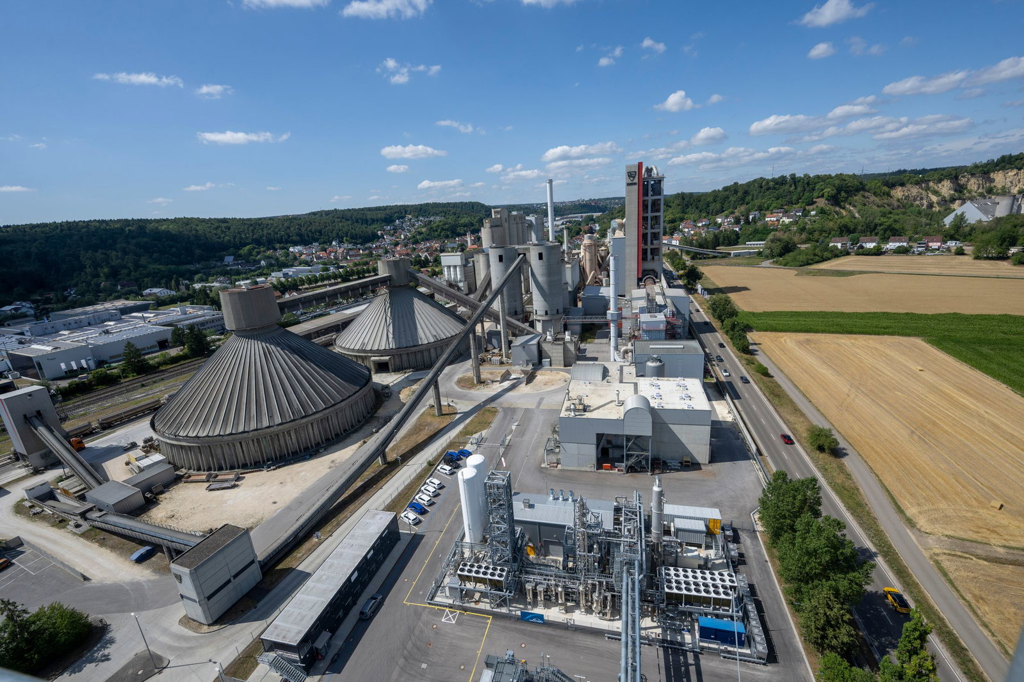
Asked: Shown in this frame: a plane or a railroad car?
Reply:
railroad car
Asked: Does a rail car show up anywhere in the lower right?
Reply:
No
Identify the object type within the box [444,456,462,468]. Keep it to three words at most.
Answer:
vehicle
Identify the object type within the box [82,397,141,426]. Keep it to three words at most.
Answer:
rail car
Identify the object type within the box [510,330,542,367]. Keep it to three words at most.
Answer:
house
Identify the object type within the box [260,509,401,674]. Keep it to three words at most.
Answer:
building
